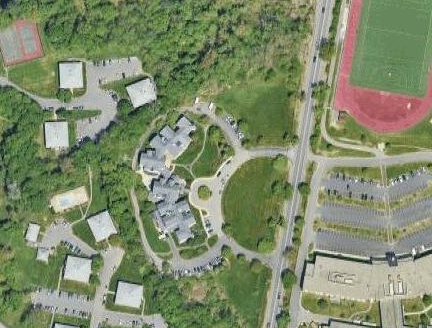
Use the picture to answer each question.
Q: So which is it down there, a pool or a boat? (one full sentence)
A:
Of the two, only a pool appears.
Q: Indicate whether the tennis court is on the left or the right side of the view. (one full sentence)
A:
The tennis court sits on the left side.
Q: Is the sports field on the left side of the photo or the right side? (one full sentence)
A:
It is on the right.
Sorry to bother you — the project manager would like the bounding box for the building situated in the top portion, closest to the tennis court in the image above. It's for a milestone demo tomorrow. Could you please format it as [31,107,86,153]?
[58,62,83,88]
